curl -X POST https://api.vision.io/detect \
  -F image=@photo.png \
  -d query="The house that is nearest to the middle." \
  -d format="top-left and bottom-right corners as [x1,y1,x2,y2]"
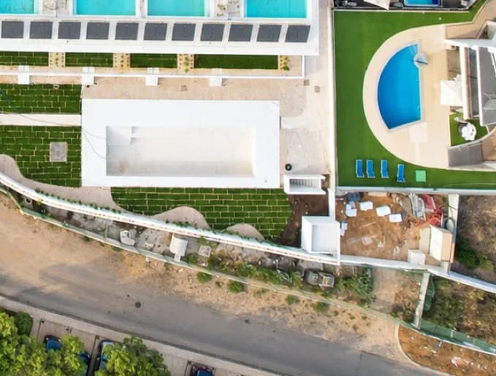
[279,171,326,195]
